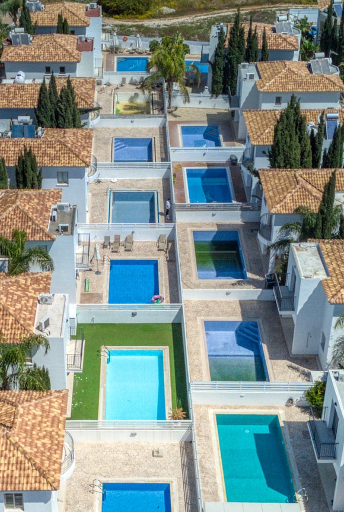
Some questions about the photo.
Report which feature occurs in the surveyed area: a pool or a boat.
pool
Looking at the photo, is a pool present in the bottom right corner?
Yes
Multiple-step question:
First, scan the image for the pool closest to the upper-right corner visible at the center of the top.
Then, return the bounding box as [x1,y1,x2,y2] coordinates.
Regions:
[171,59,208,84]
